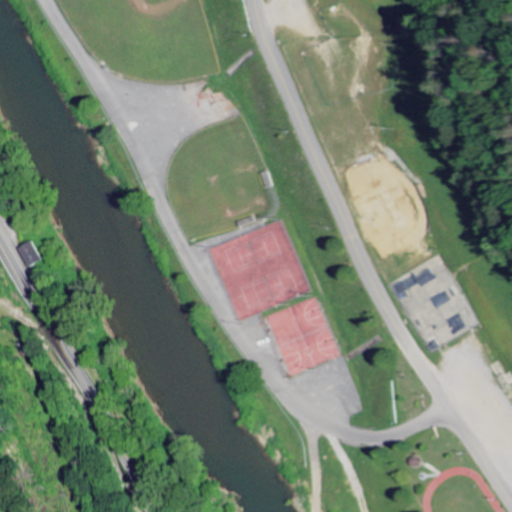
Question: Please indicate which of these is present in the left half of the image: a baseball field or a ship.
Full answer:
Visible in the left half of the image is a baseball field.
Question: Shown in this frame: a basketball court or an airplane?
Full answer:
Looking from above, you can make out a basketball court.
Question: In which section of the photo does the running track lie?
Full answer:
The running track sits in the bottom right section of the image.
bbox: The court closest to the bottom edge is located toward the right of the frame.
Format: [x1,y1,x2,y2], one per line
[278,328,340,376]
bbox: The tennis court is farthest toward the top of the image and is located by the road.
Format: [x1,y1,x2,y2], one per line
[210,221,296,284]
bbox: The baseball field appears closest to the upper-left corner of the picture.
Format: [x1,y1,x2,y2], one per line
[54,0,219,82]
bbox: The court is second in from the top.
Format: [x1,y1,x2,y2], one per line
[226,256,312,320]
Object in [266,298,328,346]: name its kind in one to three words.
basketball court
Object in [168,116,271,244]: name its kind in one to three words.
baseball field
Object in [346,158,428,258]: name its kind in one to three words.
baseball field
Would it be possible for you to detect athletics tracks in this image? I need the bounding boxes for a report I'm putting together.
[422,467,504,512]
